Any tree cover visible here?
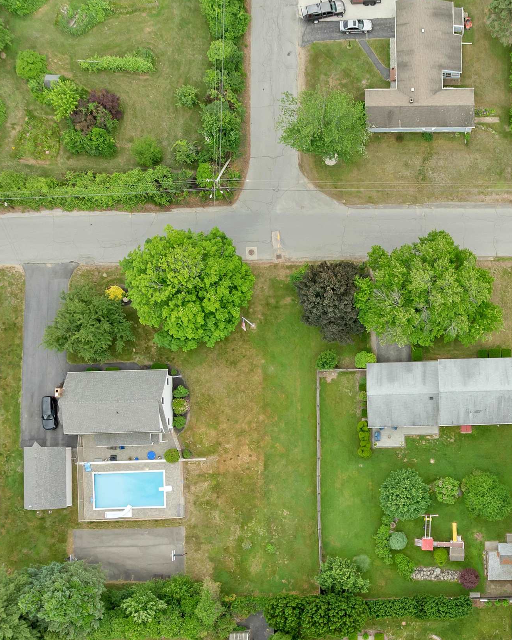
Yes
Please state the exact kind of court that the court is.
basketball court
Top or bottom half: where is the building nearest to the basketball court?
bottom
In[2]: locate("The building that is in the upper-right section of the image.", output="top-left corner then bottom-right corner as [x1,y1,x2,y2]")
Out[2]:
[365,0,476,133]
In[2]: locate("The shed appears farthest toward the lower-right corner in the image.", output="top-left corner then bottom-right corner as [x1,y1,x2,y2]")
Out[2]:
[485,533,512,581]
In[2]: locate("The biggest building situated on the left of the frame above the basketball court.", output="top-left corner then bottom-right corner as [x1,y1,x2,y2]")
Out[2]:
[55,369,182,446]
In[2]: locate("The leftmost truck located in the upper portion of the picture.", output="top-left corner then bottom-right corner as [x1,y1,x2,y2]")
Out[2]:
[298,0,345,23]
